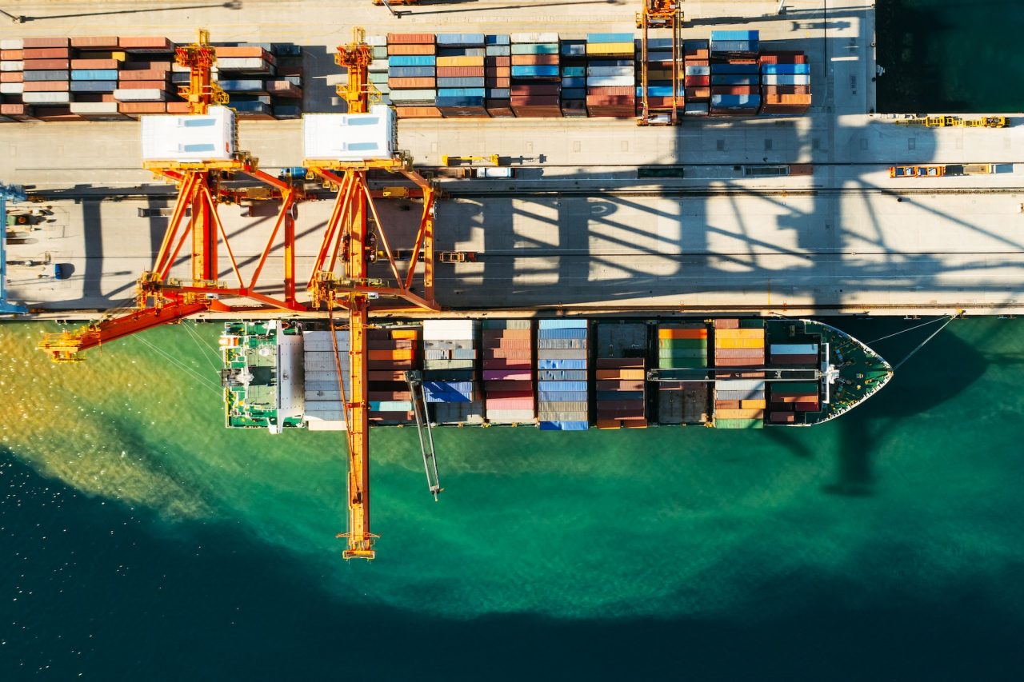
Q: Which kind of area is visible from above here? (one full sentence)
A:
This image shows a port.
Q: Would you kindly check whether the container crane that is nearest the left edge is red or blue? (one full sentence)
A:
The container crane that is nearest the left edge looks blue in the image.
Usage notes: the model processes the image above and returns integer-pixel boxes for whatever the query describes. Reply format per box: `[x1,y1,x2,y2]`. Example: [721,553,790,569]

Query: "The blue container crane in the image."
[0,177,50,313]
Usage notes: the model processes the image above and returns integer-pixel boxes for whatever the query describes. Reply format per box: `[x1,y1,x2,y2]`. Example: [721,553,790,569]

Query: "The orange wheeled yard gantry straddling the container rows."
[634,0,682,124]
